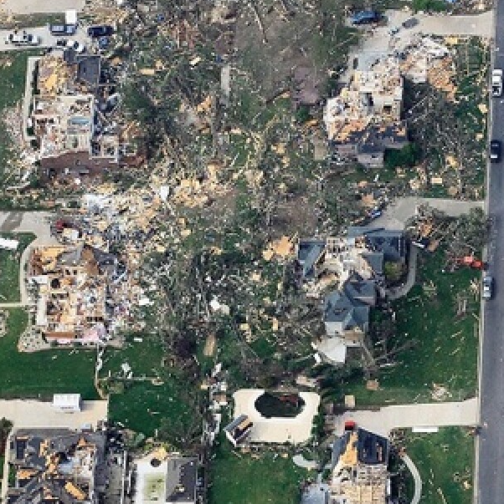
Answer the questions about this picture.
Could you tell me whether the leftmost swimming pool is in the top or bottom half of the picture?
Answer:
bottom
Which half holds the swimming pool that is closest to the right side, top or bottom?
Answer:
bottom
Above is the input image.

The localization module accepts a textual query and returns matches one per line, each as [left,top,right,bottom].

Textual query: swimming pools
[253,392,305,419]
[142,472,166,503]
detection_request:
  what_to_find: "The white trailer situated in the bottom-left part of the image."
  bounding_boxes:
[49,389,79,412]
